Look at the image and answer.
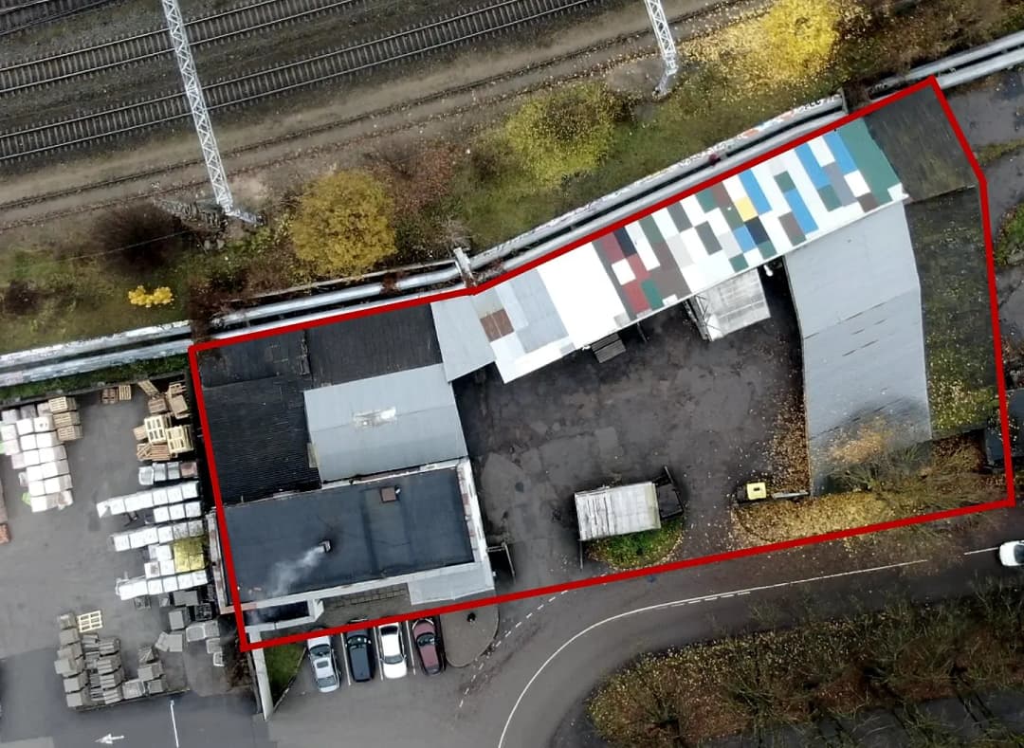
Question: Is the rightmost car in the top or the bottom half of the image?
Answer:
bottom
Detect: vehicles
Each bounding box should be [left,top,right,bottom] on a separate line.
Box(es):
[996,538,1024,569]
[306,627,341,693]
[376,615,408,682]
[410,616,445,680]
[738,482,768,502]
[341,620,375,686]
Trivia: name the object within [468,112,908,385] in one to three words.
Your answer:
shed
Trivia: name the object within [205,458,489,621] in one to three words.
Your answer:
building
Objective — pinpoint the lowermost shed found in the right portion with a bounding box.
[574,482,684,541]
